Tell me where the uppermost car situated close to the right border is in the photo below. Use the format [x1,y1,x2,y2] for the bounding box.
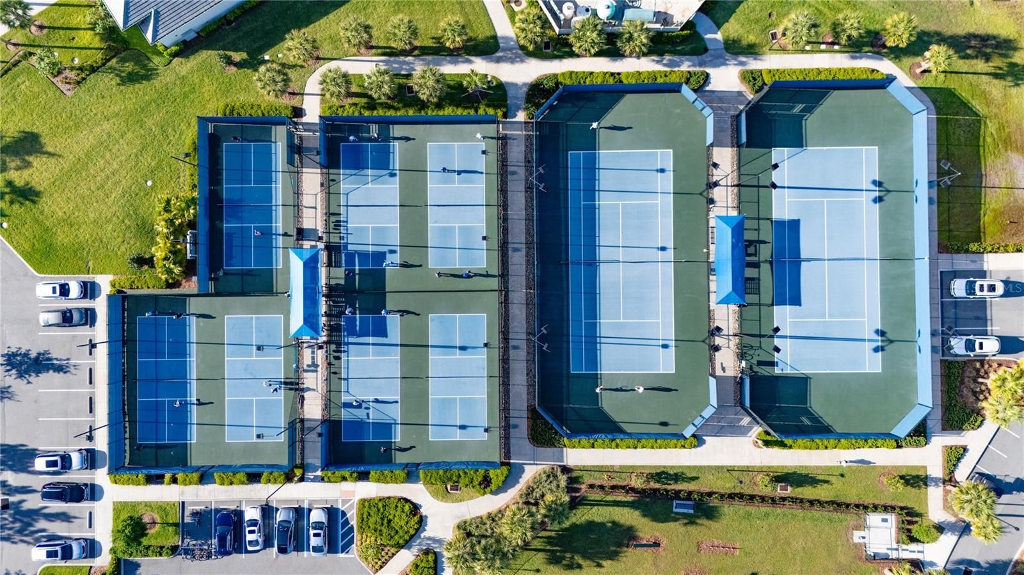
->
[948,277,1006,300]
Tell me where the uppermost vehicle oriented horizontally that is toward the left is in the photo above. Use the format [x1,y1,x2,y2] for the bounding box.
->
[33,279,86,301]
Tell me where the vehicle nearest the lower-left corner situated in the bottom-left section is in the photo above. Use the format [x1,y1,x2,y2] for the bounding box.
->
[31,537,89,563]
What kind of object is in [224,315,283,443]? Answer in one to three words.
sports court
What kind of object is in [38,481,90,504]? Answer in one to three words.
car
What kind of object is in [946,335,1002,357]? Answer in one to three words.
car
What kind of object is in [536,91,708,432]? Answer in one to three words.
tennis court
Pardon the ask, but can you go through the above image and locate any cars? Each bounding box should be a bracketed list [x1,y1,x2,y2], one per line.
[946,335,1002,357]
[38,481,90,504]
[212,510,237,556]
[33,279,86,301]
[34,449,89,472]
[273,507,297,556]
[31,537,89,563]
[306,508,329,557]
[948,277,1006,300]
[242,506,266,552]
[38,307,88,328]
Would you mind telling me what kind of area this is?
sports ground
